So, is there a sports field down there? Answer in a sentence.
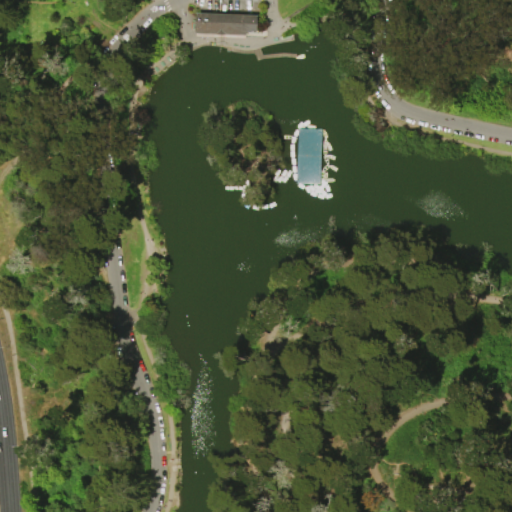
No, no sports field is visible in the view.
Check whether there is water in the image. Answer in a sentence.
Yes, there's water in this view.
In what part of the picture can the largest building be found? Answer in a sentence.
The largest building sits in the top section of the image.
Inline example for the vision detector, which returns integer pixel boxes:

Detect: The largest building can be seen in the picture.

[196,12,268,37]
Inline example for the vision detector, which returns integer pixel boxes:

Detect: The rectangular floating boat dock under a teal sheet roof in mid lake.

[298,128,322,184]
